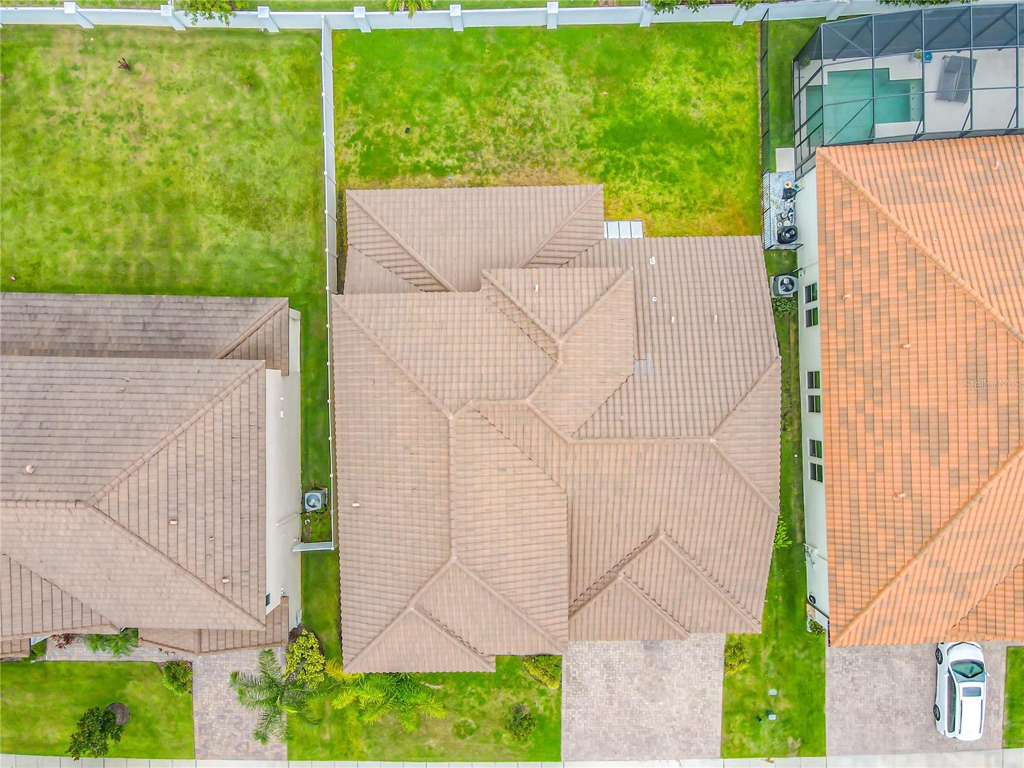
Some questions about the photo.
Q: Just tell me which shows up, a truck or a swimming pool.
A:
swimming pool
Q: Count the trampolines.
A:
0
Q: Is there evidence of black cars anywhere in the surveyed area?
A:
No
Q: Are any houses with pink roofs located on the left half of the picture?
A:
No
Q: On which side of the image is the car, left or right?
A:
right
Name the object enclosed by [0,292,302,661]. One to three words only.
house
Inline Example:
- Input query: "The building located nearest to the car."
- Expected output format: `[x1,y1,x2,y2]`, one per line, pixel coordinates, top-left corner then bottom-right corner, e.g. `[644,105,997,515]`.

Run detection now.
[796,133,1024,649]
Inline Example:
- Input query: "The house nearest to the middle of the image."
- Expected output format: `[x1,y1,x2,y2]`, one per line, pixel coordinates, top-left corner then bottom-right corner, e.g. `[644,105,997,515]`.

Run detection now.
[329,182,784,676]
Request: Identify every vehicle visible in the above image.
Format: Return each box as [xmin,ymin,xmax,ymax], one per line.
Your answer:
[932,640,988,740]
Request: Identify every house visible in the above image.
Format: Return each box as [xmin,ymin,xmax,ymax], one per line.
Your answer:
[0,292,302,661]
[796,133,1024,649]
[329,182,784,676]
